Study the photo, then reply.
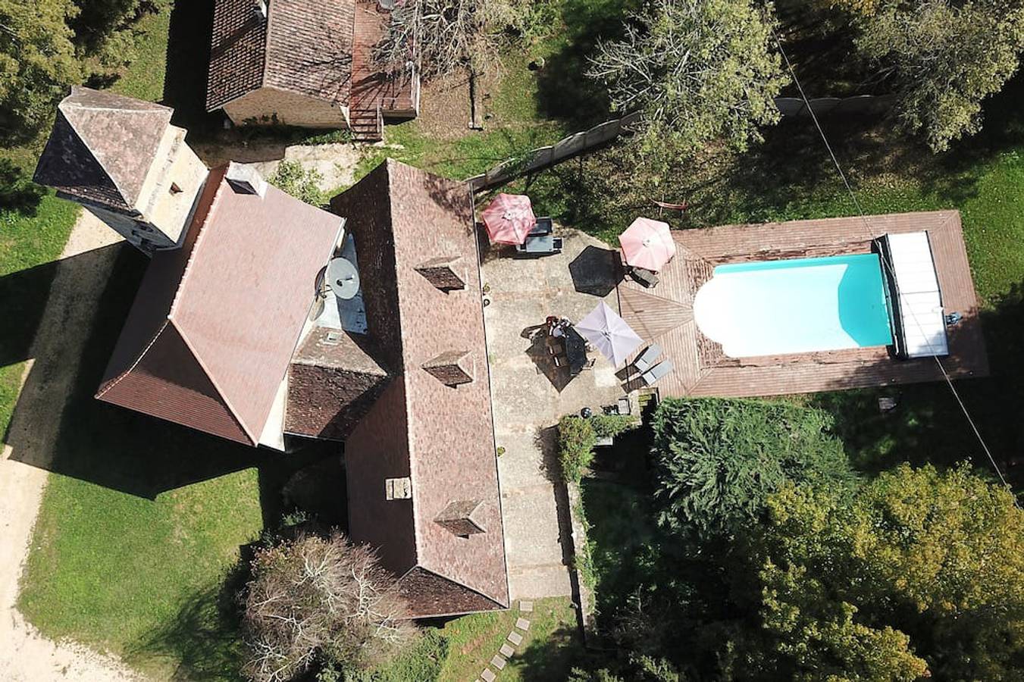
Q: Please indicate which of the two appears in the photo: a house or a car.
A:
house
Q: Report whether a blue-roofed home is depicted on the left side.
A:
No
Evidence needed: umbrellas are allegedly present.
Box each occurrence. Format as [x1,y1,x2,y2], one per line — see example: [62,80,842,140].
[618,218,675,271]
[483,194,536,244]
[575,301,643,368]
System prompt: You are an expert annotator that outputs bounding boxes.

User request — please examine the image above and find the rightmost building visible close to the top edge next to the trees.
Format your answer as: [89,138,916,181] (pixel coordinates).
[205,0,364,128]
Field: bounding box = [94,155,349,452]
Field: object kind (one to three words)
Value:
house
